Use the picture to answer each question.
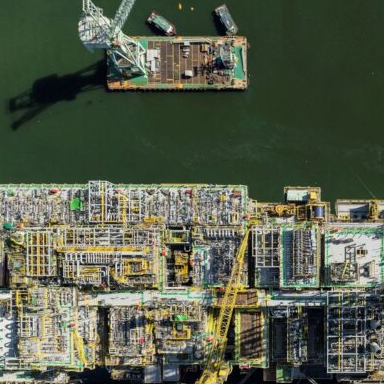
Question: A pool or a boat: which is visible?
boat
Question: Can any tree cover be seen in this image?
No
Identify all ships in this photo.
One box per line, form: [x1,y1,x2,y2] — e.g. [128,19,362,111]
[106,37,247,93]
[0,181,384,384]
